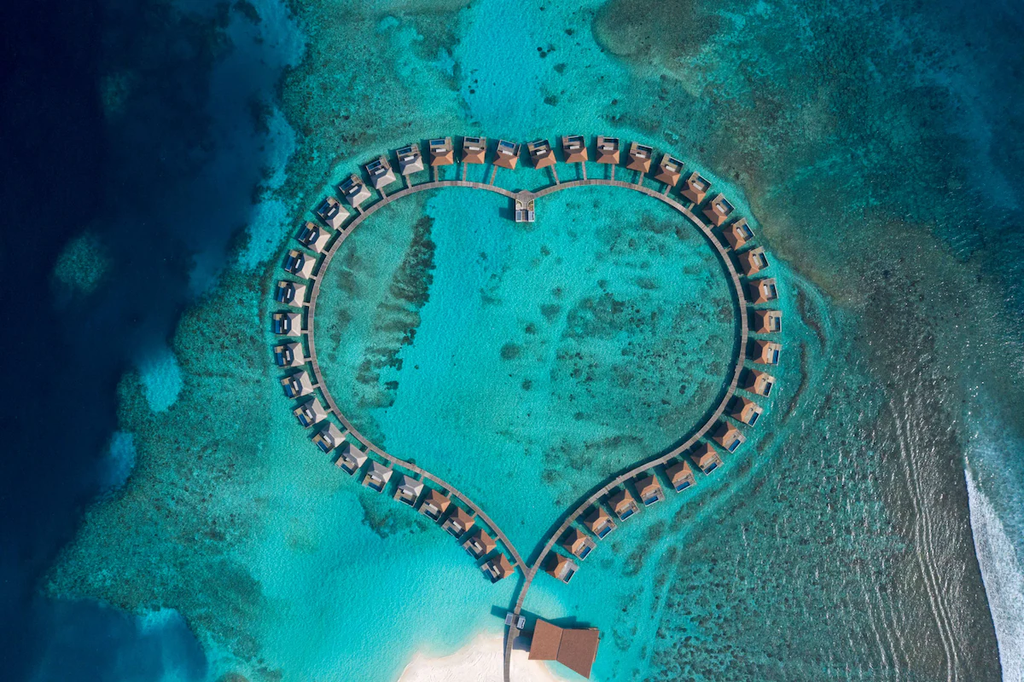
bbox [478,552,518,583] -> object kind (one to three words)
house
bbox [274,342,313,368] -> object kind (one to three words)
house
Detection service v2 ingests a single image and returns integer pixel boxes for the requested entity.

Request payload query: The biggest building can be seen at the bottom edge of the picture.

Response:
[528,619,600,679]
